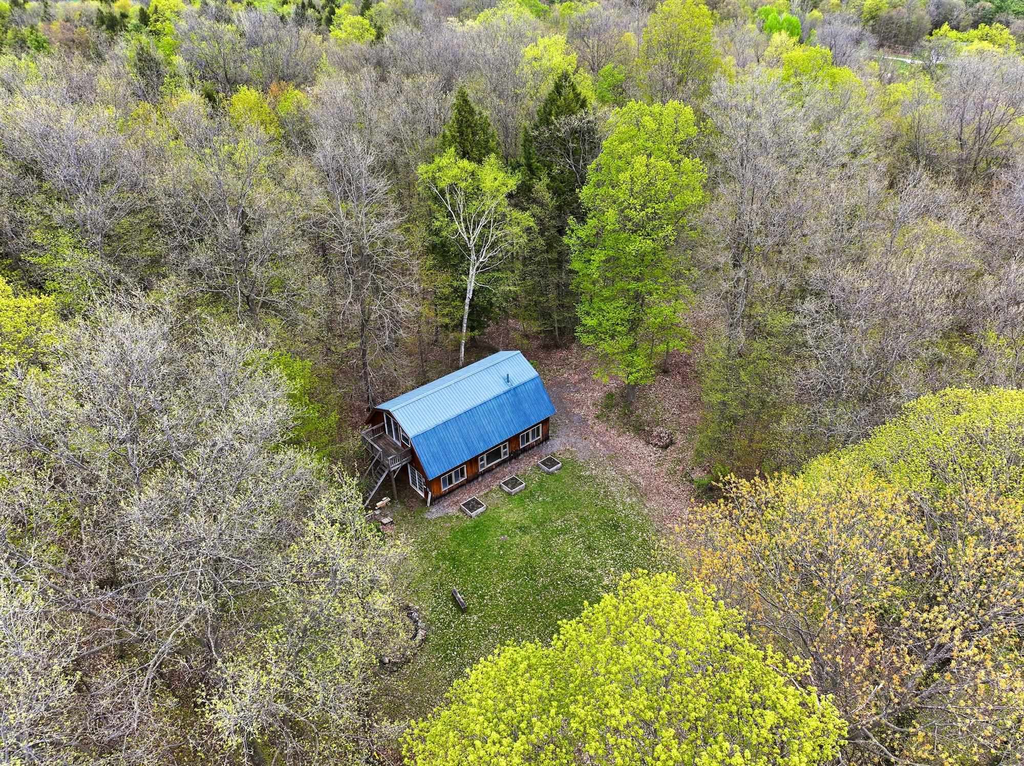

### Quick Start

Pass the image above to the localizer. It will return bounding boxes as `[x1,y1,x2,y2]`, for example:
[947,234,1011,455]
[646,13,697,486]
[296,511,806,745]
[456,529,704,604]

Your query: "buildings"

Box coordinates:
[365,351,556,506]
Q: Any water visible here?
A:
No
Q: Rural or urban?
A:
rural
